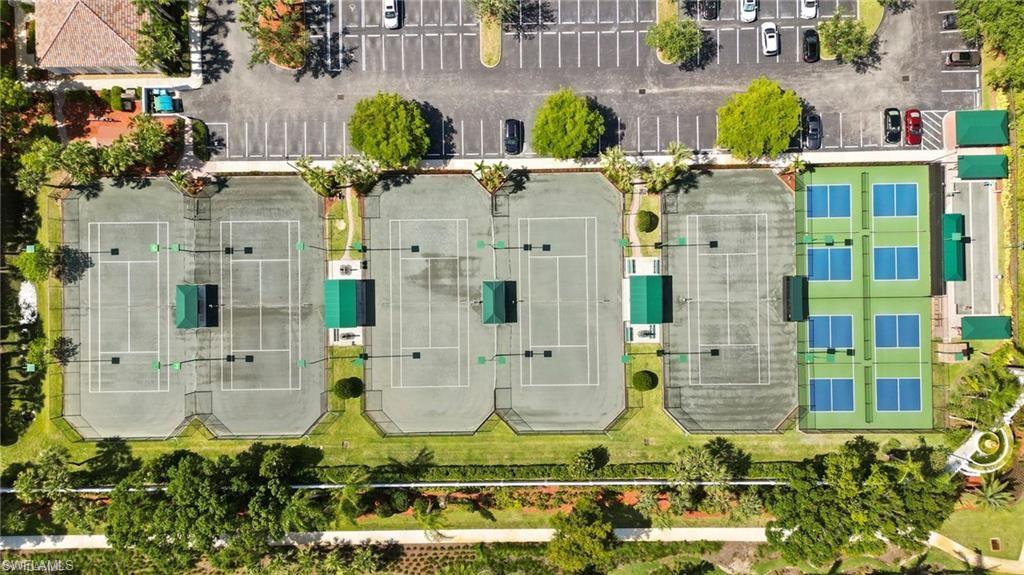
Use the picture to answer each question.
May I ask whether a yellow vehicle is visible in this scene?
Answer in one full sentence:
No, I can't see a single yellow vehicle in this photo.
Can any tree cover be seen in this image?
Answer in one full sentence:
Yes, there's tree cover in this view.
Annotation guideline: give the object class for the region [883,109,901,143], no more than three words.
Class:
car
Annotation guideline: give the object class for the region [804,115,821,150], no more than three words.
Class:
car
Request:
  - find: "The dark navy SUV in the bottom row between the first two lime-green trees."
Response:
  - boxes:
[505,120,521,154]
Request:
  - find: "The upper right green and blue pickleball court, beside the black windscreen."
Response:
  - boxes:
[865,163,931,296]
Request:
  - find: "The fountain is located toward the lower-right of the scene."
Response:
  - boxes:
[978,432,1002,455]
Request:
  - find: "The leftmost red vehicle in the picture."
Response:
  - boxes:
[904,110,922,145]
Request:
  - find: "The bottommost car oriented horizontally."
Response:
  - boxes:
[945,51,979,68]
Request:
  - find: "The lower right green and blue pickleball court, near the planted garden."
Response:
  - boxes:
[866,295,933,430]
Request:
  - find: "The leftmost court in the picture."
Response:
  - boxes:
[62,178,193,438]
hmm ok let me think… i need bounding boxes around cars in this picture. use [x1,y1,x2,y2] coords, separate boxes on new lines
[383,0,399,29]
[804,115,821,150]
[760,23,778,57]
[740,0,757,25]
[702,0,717,22]
[904,110,922,145]
[883,109,901,143]
[800,0,817,20]
[802,30,819,64]
[505,120,521,154]
[945,51,979,68]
